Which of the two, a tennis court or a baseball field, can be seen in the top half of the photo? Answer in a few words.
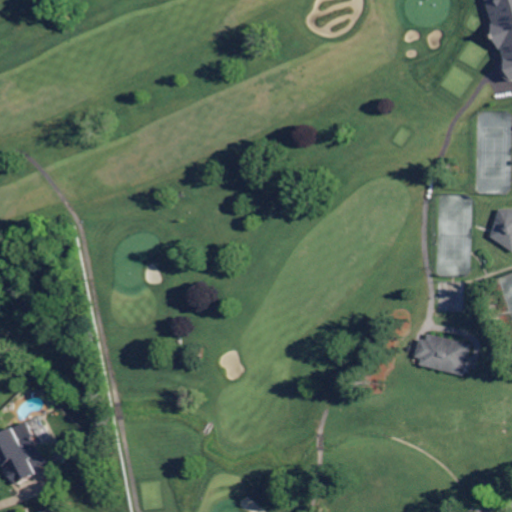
tennis court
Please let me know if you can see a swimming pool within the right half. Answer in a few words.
No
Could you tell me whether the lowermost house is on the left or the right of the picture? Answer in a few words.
left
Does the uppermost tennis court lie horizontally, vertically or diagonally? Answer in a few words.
vertically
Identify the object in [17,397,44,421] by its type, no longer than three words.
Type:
swimming pool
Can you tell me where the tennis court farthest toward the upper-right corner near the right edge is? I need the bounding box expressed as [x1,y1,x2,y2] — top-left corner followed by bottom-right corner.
[476,112,511,192]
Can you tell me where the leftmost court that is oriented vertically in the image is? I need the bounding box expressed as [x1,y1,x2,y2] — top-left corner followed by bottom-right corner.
[438,196,472,275]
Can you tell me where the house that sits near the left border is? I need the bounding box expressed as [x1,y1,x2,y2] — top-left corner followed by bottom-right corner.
[0,421,40,484]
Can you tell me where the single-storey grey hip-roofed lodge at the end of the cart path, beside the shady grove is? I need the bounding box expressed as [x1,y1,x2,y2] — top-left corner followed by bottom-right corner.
[414,335,470,376]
